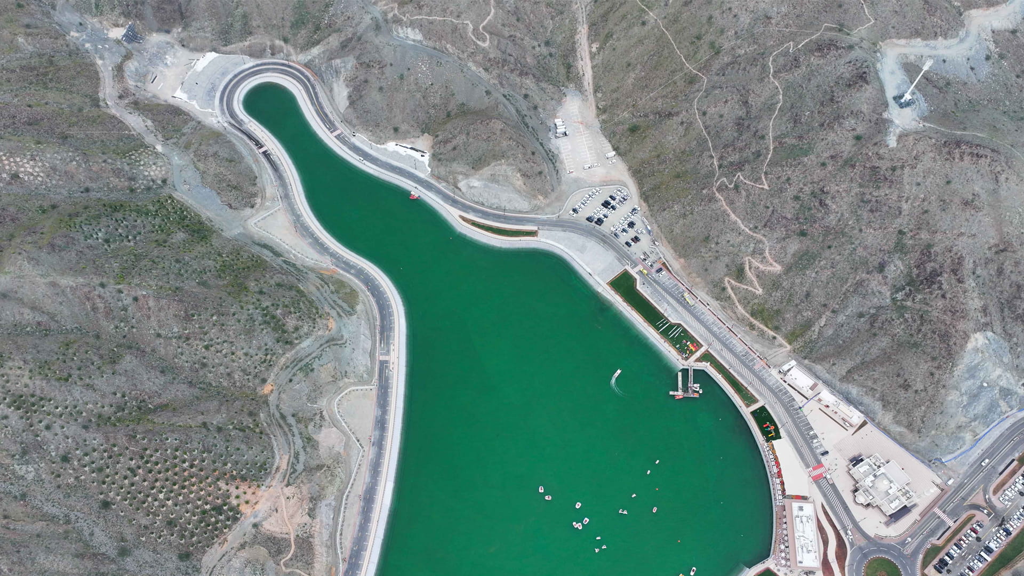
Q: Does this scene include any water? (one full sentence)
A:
Yes, water shows up in the scene.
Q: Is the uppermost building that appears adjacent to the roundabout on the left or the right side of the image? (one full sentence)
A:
It is on the right.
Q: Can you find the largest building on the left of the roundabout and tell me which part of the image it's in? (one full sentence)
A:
The largest building on the left of the roundabout sits in the bottom right section of the image.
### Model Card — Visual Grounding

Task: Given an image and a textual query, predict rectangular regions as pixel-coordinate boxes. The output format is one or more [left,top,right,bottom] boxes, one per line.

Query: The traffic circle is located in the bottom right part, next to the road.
[847,533,917,576]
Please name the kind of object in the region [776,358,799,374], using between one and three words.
vehicle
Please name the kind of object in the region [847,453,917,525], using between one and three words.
building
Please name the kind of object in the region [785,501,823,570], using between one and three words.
building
